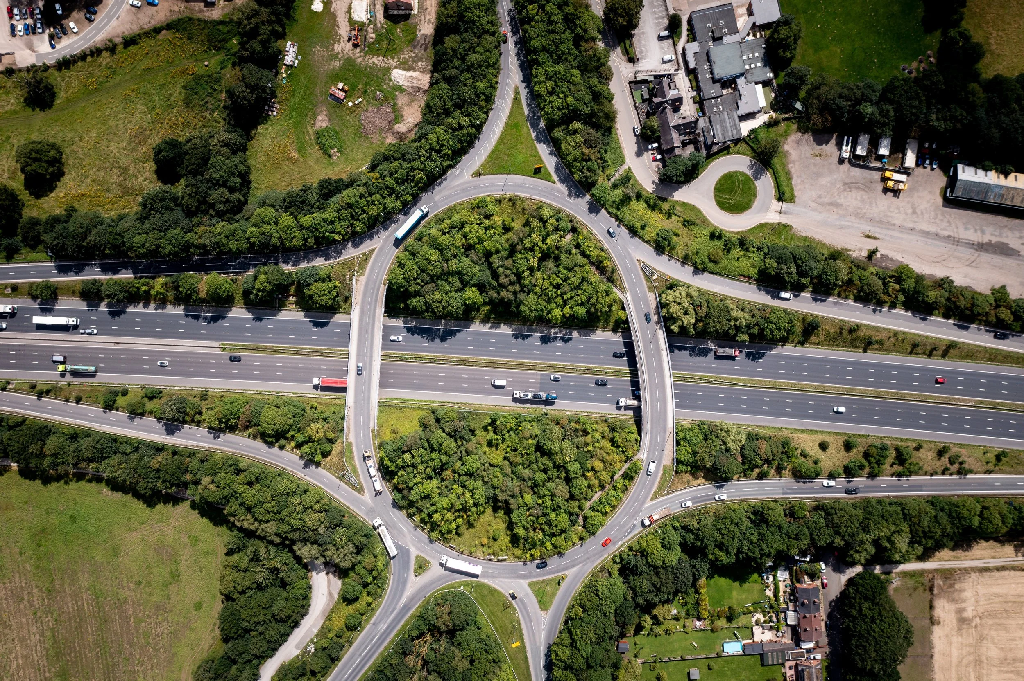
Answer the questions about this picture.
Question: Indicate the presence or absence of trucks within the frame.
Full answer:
Yes, a truck can be made out from above.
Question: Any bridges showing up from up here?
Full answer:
Yes, I can see a bridge in this picture.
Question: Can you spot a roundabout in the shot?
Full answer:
Yes, there is a roundabout in the image.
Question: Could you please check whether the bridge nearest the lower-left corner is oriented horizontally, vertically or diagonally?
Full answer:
The bridge nearest the lower-left corner is laid out vertically.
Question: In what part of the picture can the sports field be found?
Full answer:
You can find the sports field in the top right area of the picture.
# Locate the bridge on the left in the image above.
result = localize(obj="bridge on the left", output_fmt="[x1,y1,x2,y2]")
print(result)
[343,277,388,441]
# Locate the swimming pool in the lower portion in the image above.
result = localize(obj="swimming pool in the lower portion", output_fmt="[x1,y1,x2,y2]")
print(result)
[722,641,742,653]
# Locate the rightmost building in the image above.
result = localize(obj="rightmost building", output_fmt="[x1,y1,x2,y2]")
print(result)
[946,163,1024,210]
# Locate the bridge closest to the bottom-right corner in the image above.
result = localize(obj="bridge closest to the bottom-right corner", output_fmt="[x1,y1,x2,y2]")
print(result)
[623,290,677,465]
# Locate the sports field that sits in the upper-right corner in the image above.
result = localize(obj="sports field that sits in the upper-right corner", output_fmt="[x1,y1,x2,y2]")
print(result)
[779,0,938,81]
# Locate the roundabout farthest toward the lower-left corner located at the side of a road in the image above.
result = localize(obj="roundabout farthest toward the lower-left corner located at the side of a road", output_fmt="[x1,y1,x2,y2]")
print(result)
[352,174,668,583]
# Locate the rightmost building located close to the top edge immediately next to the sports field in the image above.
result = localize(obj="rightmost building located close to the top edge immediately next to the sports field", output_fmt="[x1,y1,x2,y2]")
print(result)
[683,0,781,146]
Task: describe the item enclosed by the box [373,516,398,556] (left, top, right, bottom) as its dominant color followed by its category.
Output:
white truck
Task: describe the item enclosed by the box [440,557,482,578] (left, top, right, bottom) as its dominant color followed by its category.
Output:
white truck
